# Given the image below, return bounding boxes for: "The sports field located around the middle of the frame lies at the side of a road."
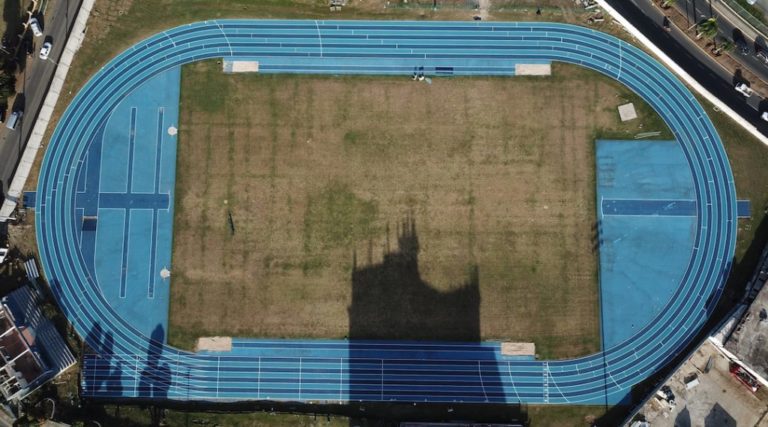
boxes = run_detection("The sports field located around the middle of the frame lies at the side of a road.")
[167,58,678,361]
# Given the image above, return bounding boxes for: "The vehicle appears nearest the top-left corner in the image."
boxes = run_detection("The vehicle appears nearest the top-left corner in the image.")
[30,17,42,37]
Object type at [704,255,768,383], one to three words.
building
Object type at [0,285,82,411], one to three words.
building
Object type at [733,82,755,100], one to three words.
vehicle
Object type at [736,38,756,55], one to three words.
car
